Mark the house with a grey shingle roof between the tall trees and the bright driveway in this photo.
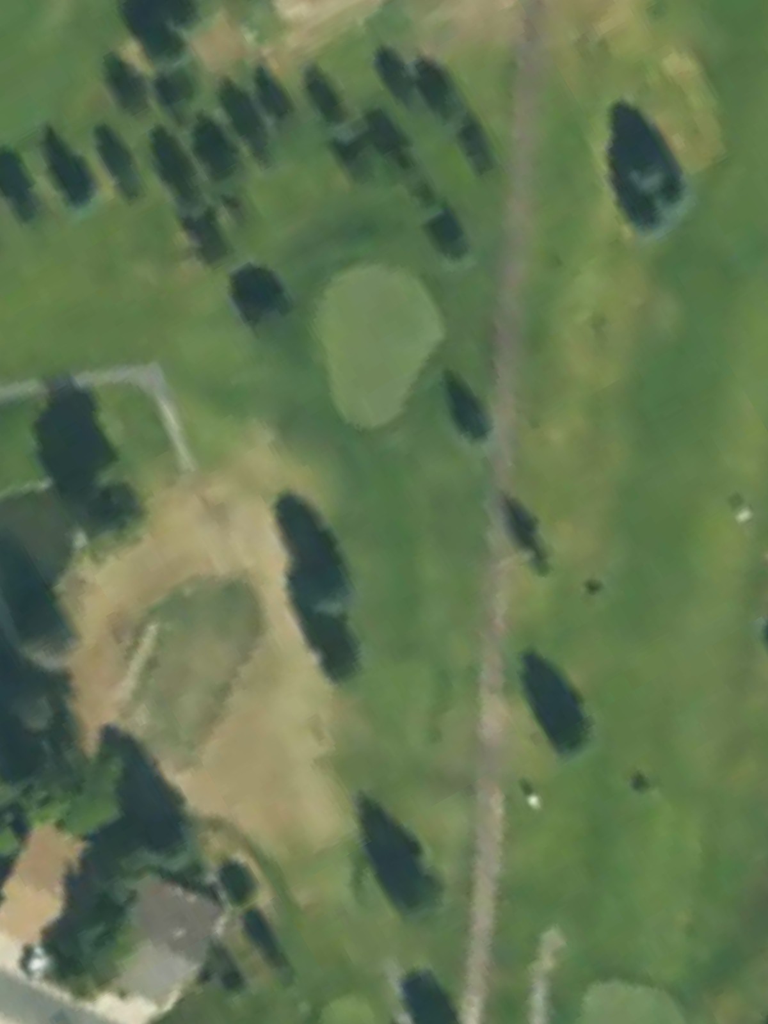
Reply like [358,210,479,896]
[107,873,222,1012]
